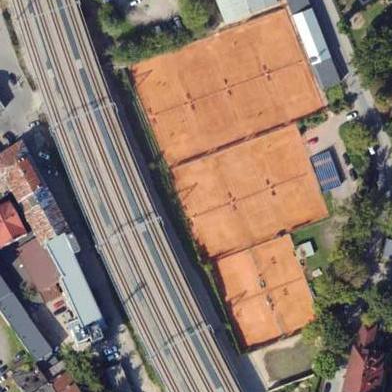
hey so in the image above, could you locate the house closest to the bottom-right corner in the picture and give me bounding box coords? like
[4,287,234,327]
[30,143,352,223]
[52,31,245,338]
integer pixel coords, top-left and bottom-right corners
[343,345,384,392]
